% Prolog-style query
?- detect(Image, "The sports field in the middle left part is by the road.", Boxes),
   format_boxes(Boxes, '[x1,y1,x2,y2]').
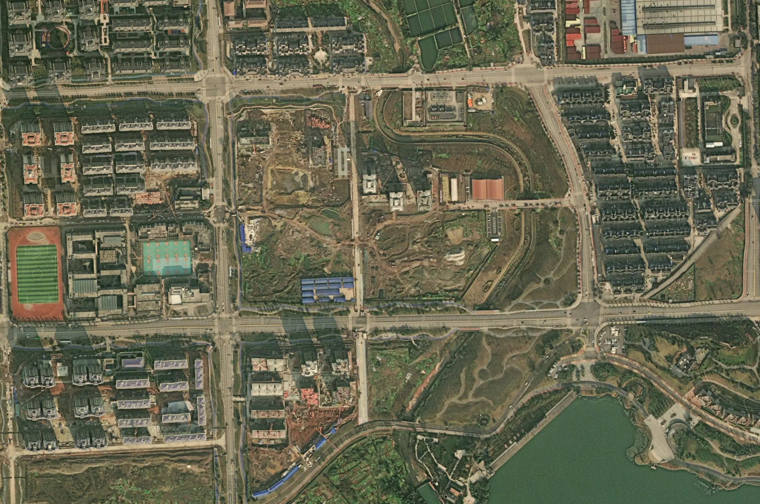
[16,246,58,304]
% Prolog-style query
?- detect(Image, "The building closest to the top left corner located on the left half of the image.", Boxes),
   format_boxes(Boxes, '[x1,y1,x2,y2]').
[9,1,32,24]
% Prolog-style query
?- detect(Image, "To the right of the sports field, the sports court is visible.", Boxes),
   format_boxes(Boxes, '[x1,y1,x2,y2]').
[143,239,191,276]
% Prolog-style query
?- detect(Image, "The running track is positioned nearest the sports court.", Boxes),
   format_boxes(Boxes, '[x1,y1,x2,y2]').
[8,226,66,321]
